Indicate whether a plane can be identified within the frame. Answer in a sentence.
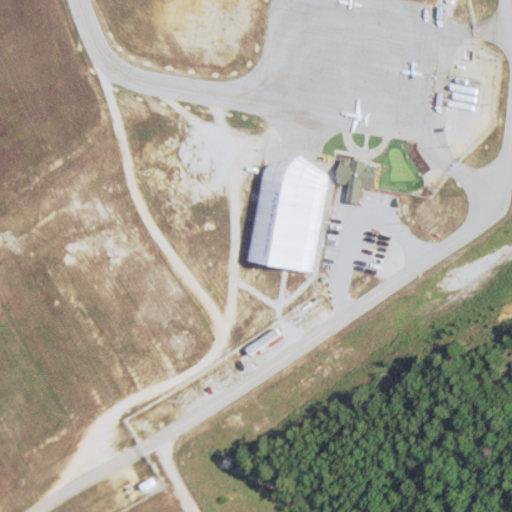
Yes, I can see a plane in this picture.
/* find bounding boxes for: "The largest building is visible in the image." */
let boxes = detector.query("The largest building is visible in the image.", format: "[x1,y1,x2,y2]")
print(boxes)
[248,156,329,273]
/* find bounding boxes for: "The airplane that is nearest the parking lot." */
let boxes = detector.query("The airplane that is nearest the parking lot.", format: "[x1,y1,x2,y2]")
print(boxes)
[341,99,372,133]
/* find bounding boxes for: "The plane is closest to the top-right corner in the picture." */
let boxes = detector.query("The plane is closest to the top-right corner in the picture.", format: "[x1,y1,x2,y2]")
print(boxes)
[402,62,422,78]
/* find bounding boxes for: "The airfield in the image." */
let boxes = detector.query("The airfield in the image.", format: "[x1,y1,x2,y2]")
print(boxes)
[70,0,509,275]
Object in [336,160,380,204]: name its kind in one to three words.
building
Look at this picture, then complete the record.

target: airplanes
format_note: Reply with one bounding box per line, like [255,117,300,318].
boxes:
[402,62,422,78]
[338,0,361,9]
[341,99,372,133]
